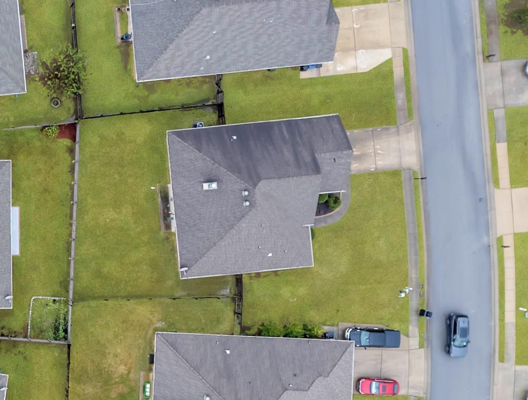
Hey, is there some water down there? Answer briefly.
No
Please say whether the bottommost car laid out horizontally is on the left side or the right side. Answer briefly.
right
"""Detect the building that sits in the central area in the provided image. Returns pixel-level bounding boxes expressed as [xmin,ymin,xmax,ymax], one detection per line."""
[164,113,353,280]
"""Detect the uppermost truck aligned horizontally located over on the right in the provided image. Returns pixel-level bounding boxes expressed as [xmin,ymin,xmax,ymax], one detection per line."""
[343,327,402,350]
